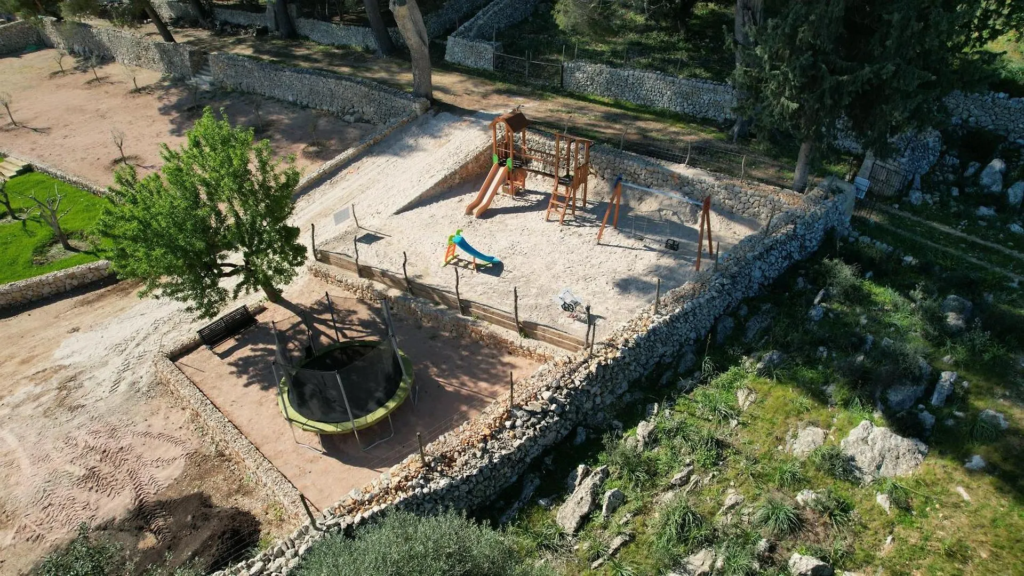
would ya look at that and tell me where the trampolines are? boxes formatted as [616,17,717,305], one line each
[270,290,417,456]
